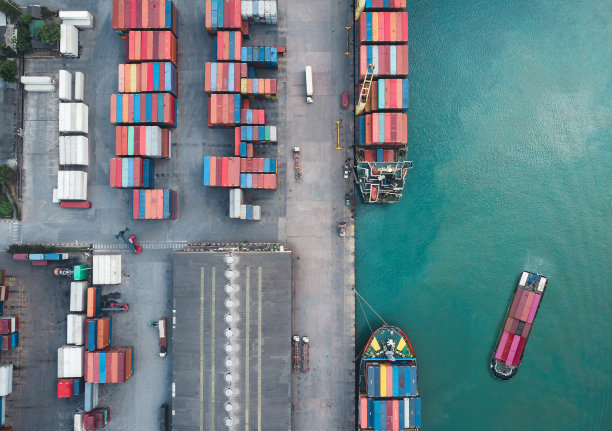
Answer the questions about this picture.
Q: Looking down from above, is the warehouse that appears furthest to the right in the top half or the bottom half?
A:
bottom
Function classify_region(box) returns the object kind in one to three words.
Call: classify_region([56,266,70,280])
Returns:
vehicle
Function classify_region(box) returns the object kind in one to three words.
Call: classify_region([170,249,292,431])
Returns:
warehouse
